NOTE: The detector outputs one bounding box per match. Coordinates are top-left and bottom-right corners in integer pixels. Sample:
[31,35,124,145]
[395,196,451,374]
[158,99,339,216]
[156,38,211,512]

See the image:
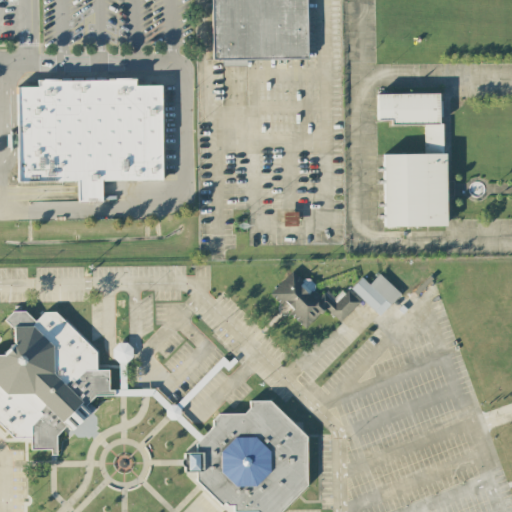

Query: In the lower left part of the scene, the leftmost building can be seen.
[0,311,110,455]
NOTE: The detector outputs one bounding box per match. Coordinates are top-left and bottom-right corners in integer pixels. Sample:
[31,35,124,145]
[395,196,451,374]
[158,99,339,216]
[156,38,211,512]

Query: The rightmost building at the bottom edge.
[199,400,308,512]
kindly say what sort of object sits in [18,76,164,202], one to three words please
building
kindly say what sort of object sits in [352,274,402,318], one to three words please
barn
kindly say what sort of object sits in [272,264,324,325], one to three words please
house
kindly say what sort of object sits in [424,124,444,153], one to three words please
building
